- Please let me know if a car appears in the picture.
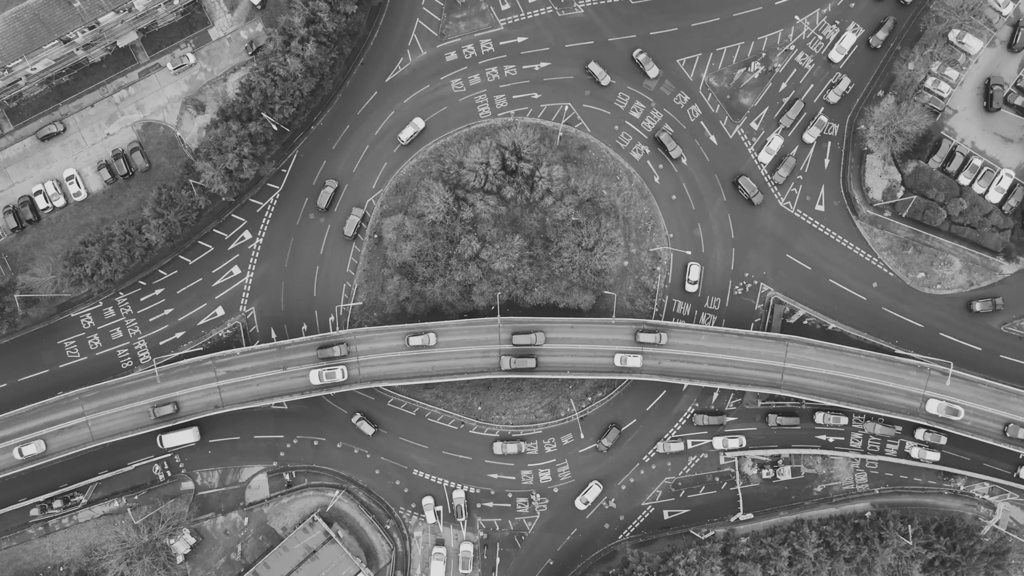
Yes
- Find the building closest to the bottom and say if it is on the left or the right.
left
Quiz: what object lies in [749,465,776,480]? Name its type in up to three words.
work vehicle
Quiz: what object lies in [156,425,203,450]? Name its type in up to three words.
vehicle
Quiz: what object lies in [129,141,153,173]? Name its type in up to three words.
car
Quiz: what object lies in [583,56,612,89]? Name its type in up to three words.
car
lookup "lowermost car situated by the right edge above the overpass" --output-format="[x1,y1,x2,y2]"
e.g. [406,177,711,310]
[966,295,1005,314]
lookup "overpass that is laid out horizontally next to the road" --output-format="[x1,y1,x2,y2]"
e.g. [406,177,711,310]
[0,316,1024,477]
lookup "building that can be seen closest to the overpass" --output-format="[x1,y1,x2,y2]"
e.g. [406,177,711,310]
[244,509,380,576]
